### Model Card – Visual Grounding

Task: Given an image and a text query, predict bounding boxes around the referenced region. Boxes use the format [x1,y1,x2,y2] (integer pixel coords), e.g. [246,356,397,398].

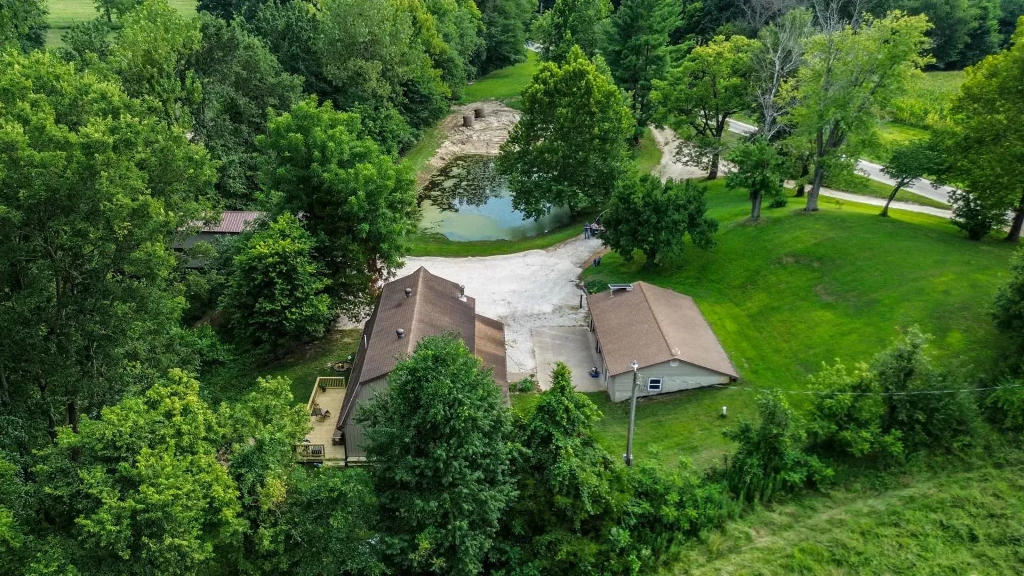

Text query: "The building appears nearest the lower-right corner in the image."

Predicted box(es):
[587,279,738,404]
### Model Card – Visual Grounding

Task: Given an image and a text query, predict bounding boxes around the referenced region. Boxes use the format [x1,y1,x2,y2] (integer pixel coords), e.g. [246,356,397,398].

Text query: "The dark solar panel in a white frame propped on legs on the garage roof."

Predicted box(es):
[612,283,635,300]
